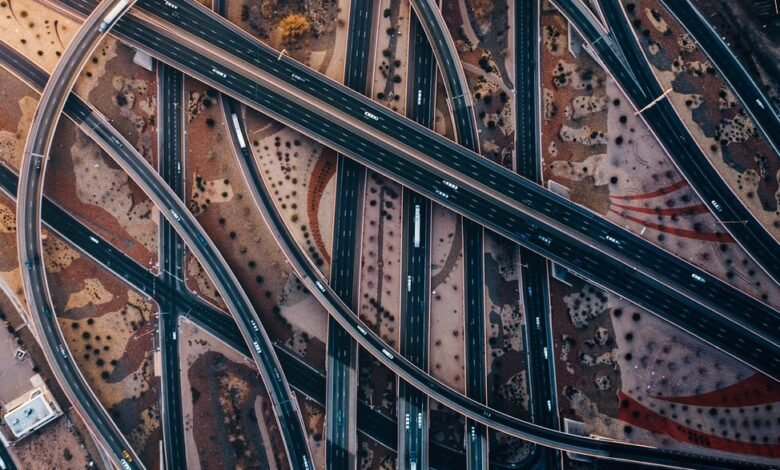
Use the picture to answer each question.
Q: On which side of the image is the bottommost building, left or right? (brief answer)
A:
left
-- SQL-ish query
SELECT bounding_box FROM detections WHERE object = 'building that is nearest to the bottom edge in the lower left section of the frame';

[0,372,64,443]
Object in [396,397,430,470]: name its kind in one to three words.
bridge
